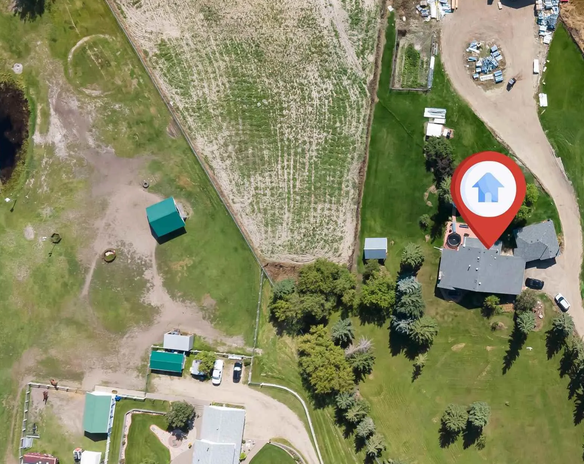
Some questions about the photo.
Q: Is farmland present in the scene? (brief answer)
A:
Yes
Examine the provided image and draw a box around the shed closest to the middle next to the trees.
[364,238,389,259]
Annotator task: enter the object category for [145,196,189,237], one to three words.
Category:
barn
